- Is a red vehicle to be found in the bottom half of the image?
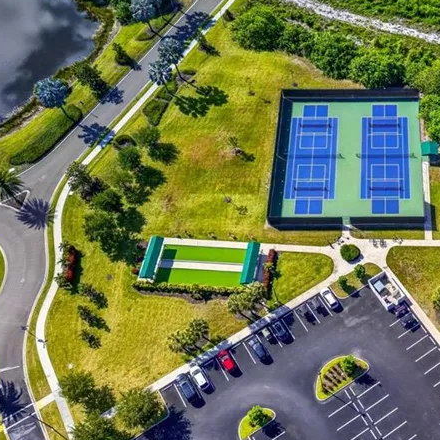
Yes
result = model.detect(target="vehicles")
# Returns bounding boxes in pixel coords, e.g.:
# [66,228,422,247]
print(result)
[218,347,237,372]
[248,335,267,360]
[176,373,195,400]
[261,326,273,341]
[311,297,322,312]
[321,286,340,309]
[191,363,210,389]
[402,316,415,330]
[271,320,291,344]
[296,306,307,321]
